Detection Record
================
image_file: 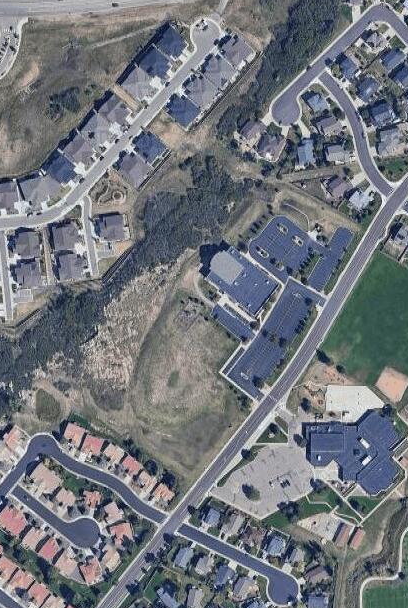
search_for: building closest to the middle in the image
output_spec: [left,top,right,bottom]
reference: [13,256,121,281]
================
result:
[204,247,280,317]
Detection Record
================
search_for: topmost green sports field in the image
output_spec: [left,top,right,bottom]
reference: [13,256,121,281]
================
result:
[321,251,408,408]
